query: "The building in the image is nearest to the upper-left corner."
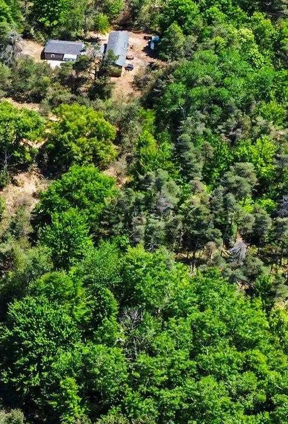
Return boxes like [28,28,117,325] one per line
[44,40,84,62]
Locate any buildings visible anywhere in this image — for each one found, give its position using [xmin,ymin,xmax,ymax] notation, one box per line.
[44,40,84,62]
[96,33,130,79]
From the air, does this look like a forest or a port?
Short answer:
forest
